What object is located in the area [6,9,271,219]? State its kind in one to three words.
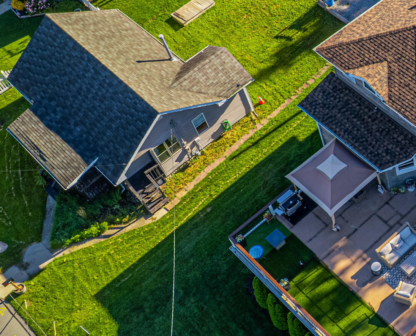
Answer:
house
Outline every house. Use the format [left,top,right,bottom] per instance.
[6,9,271,219]
[296,0,416,189]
